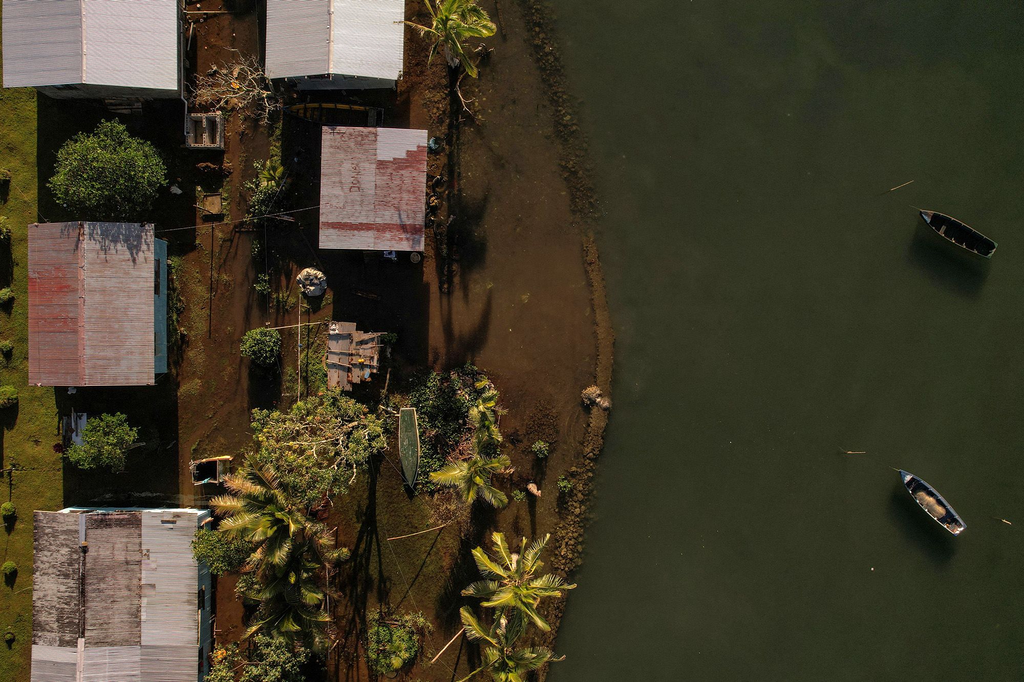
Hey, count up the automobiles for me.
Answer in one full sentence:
The photo contains no automobiles.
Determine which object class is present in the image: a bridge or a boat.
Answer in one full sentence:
Visible in the photo is a boat.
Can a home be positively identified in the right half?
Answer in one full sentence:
No, no home can be made out in the right half.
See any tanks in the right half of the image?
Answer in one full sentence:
No, in the right half of the image there is no tank.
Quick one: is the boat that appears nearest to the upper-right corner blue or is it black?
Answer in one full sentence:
The boat that appears nearest to the upper-right corner looks black in the image.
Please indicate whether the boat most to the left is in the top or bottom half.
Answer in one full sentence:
The top half of the photo is where the boat most to the left is.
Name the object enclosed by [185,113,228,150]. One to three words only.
storage tank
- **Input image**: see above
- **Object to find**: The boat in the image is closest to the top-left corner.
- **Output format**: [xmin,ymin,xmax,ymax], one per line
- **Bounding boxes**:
[284,99,385,128]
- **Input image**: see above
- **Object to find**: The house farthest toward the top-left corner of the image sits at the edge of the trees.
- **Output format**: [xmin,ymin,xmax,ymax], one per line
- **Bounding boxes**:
[3,0,194,136]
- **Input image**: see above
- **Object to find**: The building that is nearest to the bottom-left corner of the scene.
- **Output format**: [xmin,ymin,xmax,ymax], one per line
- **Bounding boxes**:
[32,507,209,682]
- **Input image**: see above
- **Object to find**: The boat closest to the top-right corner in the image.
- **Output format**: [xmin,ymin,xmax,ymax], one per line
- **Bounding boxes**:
[915,209,998,258]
